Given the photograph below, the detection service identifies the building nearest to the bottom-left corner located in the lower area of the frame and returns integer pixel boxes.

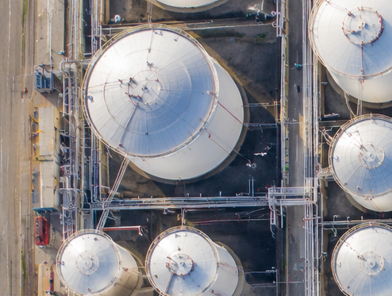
[29,158,64,213]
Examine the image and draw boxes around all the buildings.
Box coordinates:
[30,107,64,162]
[29,158,64,213]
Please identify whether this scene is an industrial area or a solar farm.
industrial area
